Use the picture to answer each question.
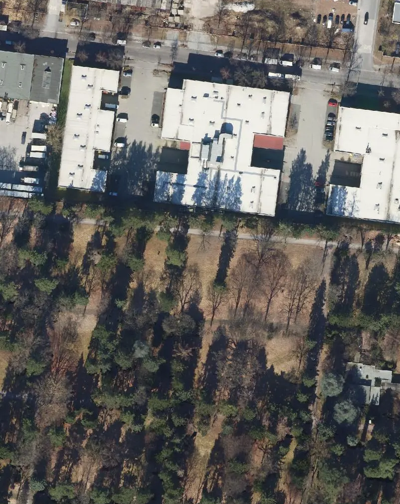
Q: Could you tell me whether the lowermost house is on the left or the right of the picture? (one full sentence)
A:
The lowermost house is on the right side of the image.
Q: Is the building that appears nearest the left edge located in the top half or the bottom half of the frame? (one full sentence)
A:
The building that appears nearest the left edge is in the top half of the image.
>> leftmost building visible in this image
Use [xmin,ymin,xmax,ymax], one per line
[0,50,65,104]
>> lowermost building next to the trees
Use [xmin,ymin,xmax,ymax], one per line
[345,364,400,405]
